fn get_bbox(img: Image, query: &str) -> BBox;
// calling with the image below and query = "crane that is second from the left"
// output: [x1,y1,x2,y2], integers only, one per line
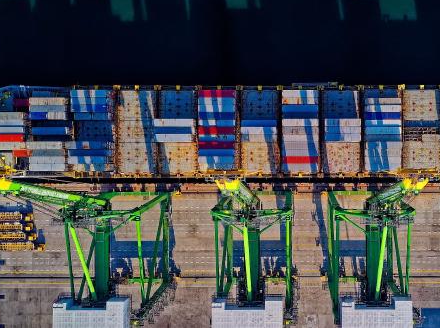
[196,166,302,328]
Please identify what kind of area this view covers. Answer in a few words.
port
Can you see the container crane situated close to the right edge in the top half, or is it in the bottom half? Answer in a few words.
bottom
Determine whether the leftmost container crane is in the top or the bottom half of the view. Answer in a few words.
bottom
